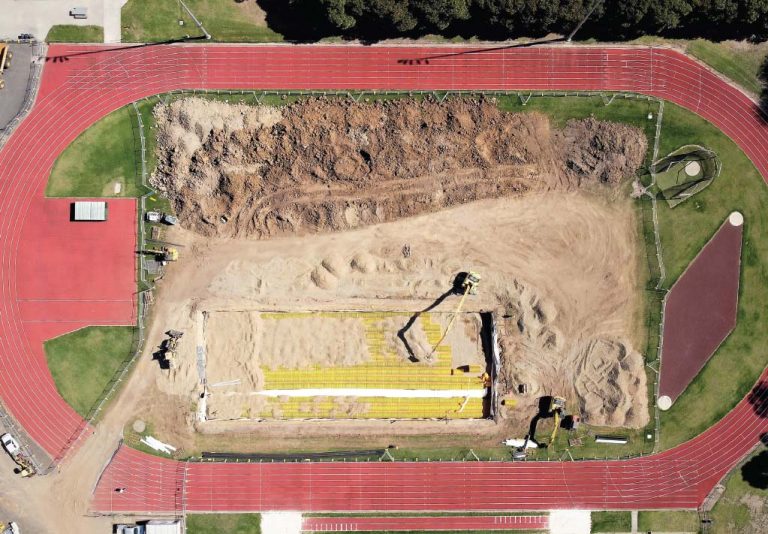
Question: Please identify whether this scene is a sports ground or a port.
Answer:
sports ground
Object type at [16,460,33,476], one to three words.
work vehicle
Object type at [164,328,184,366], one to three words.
work vehicle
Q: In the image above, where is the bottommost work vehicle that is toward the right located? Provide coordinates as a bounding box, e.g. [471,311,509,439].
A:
[546,394,569,447]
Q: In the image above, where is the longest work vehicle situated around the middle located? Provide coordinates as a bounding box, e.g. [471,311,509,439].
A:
[425,270,483,361]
